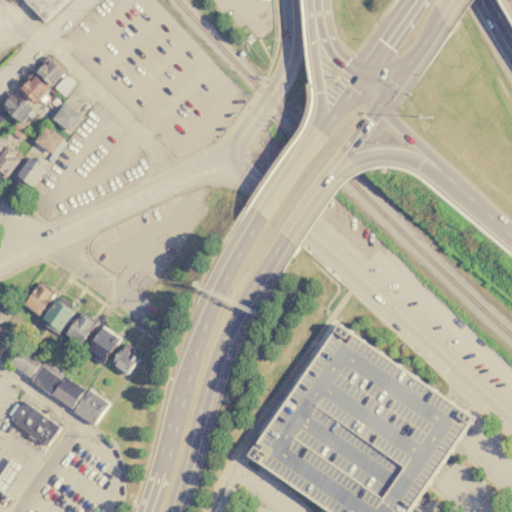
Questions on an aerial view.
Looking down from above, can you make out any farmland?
No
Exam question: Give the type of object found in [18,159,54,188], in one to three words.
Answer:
house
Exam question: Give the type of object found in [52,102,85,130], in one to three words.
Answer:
shed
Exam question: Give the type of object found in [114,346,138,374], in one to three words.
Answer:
house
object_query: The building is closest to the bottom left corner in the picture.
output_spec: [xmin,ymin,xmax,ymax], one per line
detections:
[10,402,60,446]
